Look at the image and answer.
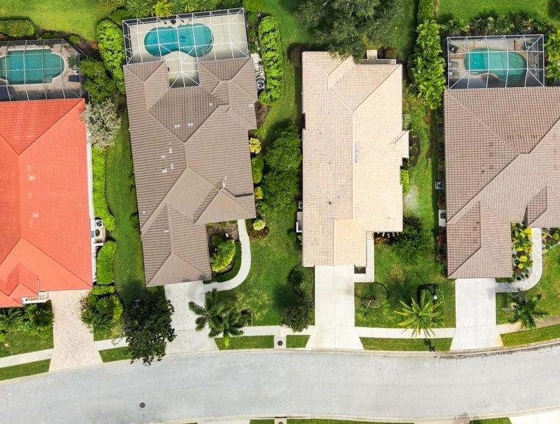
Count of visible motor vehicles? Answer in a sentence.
There are no motor vehicles in this view.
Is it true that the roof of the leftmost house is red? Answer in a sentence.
Yes, the roof of the leftmost house appears red.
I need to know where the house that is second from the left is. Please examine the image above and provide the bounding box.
[123,56,259,287]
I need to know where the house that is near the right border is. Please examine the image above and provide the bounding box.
[443,86,560,279]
